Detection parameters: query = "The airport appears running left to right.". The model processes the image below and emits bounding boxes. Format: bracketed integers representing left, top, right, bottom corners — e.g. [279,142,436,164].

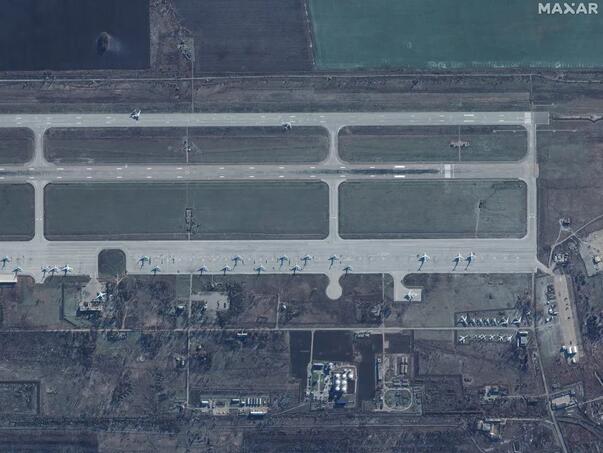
[0,112,579,366]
